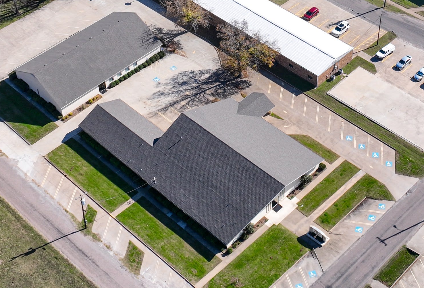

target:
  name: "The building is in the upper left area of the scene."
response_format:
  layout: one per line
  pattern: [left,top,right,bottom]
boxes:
[13,11,164,115]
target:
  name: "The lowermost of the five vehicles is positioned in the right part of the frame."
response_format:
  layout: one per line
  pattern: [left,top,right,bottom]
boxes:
[412,66,424,82]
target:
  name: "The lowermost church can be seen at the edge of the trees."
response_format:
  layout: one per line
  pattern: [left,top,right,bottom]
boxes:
[76,96,323,248]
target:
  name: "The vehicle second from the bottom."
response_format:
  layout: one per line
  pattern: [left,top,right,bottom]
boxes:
[395,55,413,70]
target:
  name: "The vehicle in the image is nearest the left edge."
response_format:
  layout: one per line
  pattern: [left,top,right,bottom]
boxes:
[302,4,321,20]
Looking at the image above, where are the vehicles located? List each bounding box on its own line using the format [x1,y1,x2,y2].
[302,4,321,20]
[375,42,397,60]
[395,55,413,70]
[331,19,350,36]
[412,66,424,82]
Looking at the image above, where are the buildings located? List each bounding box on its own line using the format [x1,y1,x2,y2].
[13,11,164,115]
[76,96,323,248]
[176,0,353,84]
